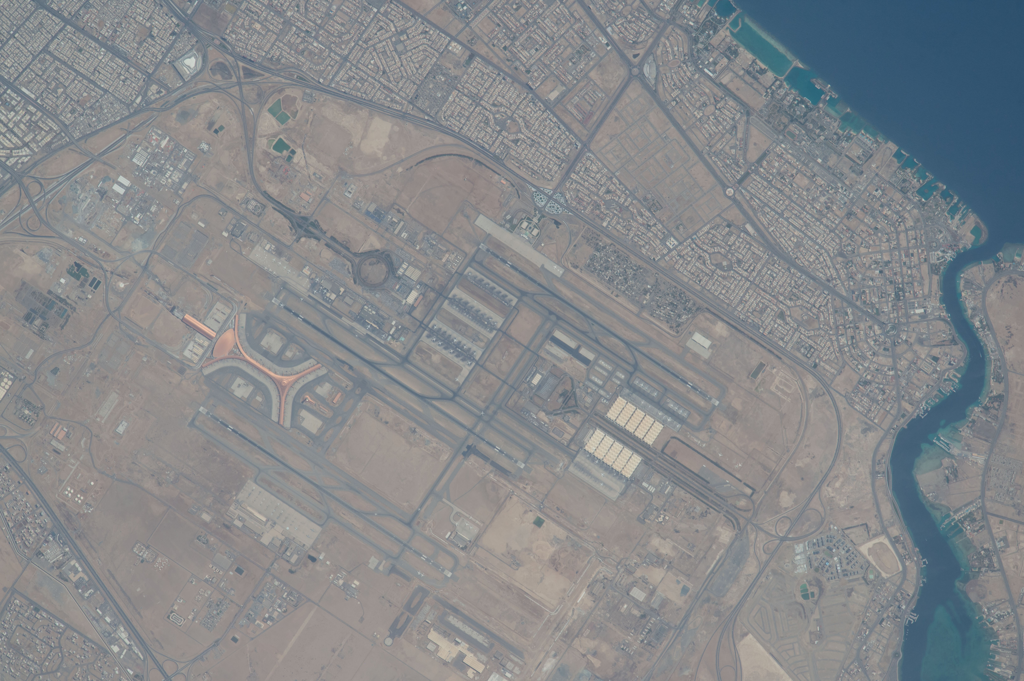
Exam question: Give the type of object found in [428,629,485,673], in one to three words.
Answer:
hangar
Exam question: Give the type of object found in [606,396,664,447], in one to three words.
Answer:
building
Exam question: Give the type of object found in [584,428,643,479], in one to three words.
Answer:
building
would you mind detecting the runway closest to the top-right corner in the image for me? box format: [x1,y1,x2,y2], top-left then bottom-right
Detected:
[477,241,721,408]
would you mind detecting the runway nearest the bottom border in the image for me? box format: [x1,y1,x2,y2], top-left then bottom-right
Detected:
[197,405,453,577]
